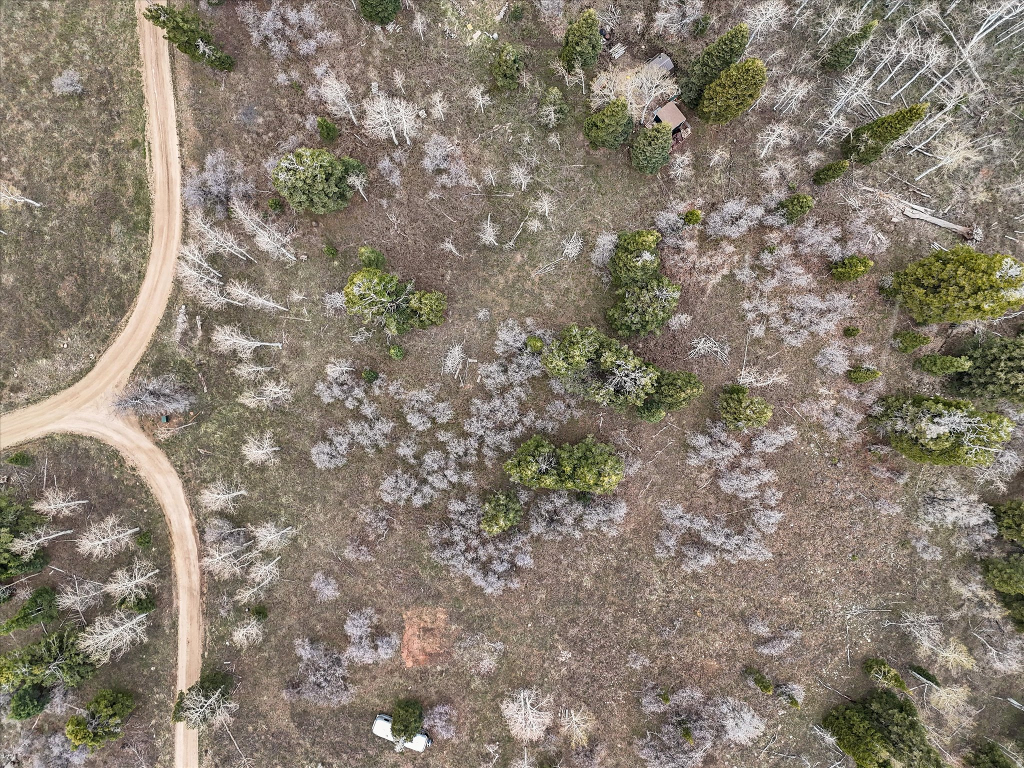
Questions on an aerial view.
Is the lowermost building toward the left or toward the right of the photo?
right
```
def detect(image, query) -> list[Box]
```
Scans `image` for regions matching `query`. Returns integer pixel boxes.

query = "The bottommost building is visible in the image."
[655,102,686,133]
